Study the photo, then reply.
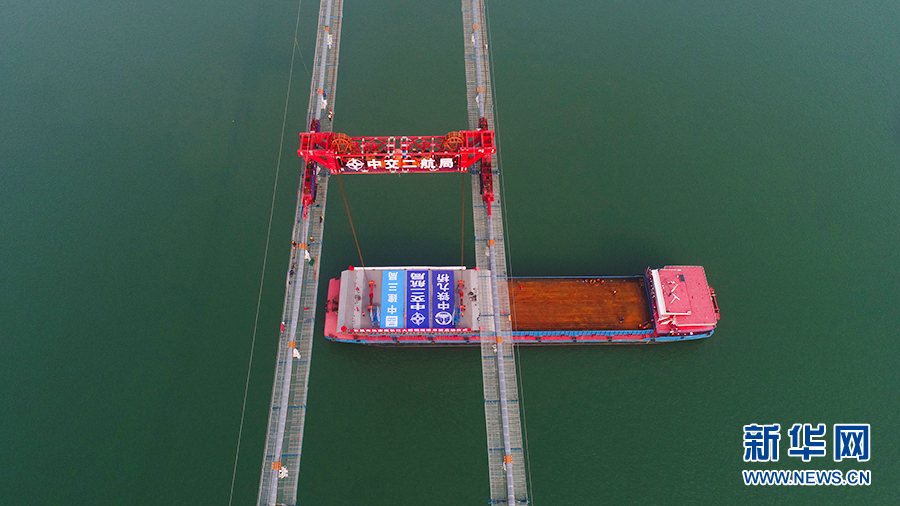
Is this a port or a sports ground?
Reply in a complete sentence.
The area seen from above is a port.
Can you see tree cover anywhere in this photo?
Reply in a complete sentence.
No, there's no tree cover in this view.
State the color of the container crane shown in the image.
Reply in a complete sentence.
The container crane is red.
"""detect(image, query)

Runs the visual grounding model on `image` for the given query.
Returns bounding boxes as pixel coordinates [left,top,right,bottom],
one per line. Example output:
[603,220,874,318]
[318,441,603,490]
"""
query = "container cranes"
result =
[297,117,496,221]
